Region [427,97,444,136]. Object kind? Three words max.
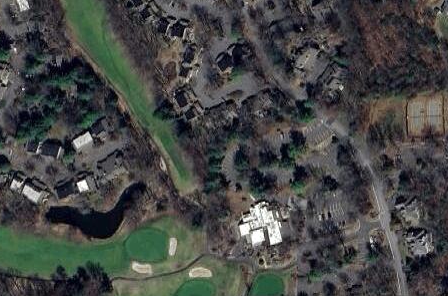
tennis court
